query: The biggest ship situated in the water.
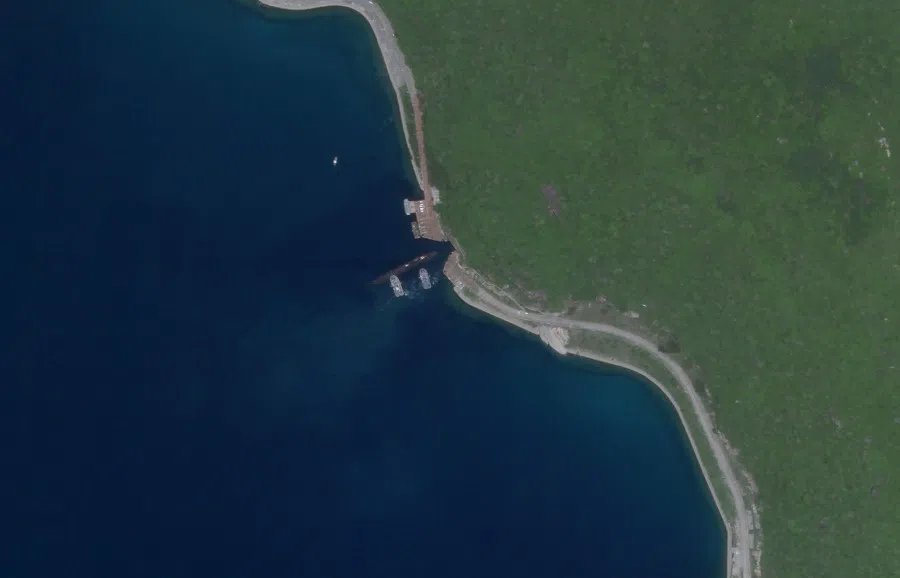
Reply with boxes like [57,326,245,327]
[374,252,436,282]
